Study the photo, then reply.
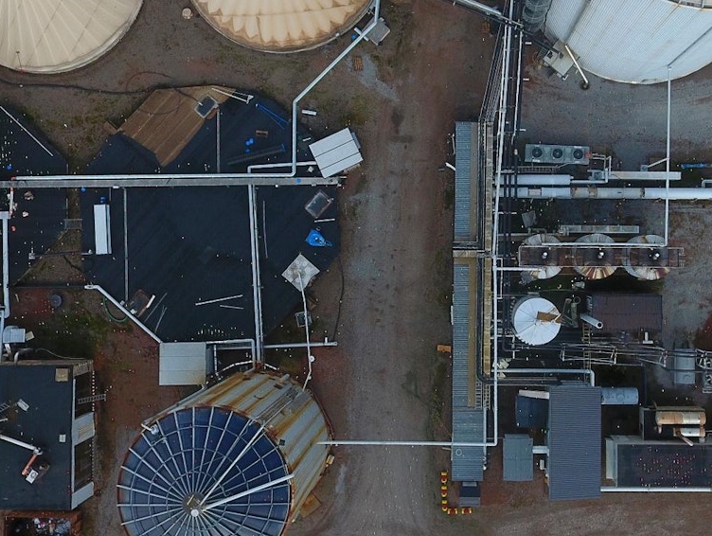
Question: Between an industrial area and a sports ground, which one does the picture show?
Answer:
industrial area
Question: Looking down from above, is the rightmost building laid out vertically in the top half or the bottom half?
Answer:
bottom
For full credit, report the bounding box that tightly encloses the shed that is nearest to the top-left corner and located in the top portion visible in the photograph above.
[308,128,365,178]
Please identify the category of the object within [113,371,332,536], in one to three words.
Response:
storage tank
